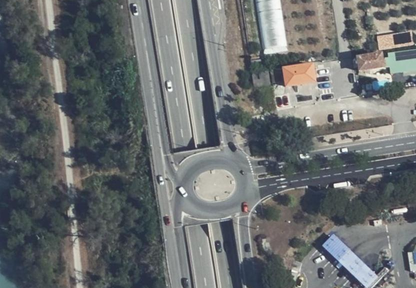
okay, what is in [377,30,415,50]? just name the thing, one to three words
house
